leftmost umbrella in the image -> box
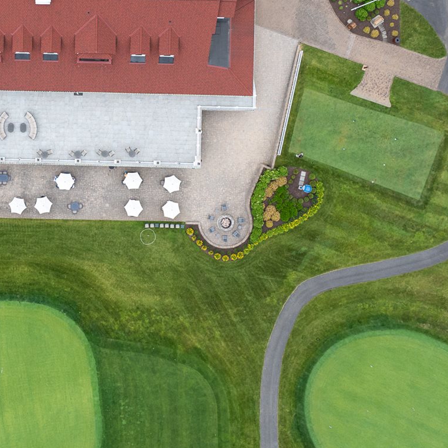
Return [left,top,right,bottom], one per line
[6,195,25,214]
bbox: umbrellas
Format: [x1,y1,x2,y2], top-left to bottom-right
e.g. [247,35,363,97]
[33,195,52,215]
[53,172,74,191]
[160,200,179,221]
[162,173,180,193]
[124,200,143,217]
[6,195,25,214]
[124,171,143,189]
